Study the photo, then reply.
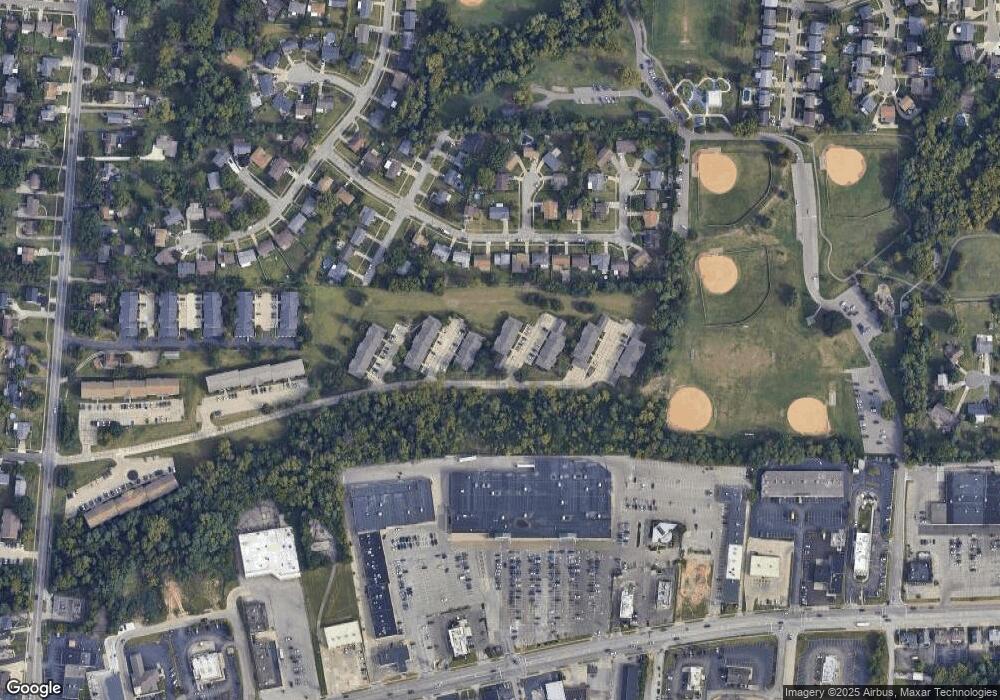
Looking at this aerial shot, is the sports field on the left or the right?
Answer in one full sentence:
The sports field is on the right side of the image.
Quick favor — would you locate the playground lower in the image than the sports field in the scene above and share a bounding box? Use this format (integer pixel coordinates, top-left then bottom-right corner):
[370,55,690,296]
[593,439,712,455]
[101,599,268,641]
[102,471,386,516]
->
[681,82,728,111]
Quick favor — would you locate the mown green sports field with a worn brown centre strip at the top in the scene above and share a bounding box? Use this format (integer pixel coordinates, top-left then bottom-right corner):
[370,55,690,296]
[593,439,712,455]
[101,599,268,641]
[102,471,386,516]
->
[653,0,734,48]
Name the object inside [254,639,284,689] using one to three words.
shed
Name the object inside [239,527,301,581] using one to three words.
building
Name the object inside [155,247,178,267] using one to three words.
house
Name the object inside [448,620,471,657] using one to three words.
building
